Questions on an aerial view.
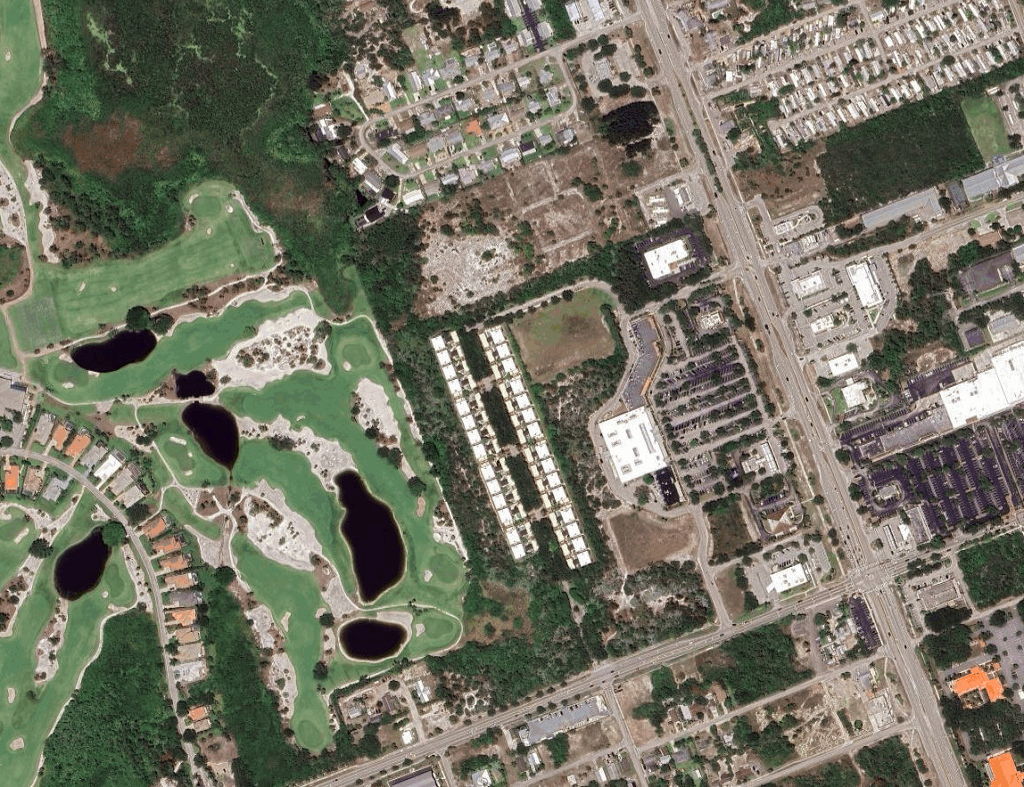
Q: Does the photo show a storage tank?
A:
No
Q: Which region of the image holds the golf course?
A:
left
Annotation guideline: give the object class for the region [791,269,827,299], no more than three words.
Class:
building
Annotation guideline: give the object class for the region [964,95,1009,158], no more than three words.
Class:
sports field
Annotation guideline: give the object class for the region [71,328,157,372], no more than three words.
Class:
pond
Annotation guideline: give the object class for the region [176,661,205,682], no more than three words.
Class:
house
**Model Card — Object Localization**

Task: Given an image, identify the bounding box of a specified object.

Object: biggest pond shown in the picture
[335,470,405,605]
